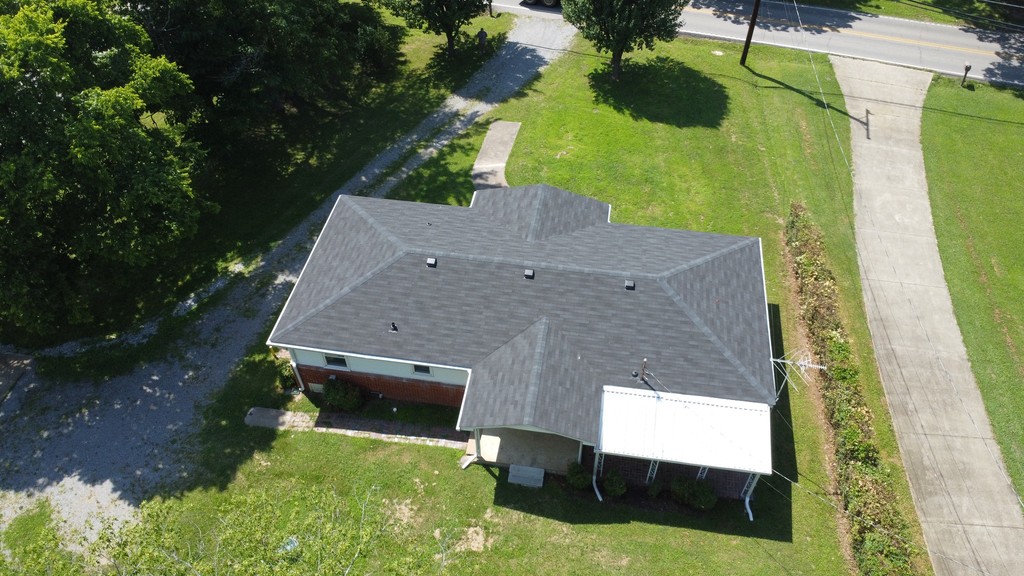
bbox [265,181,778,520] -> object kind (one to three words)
house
